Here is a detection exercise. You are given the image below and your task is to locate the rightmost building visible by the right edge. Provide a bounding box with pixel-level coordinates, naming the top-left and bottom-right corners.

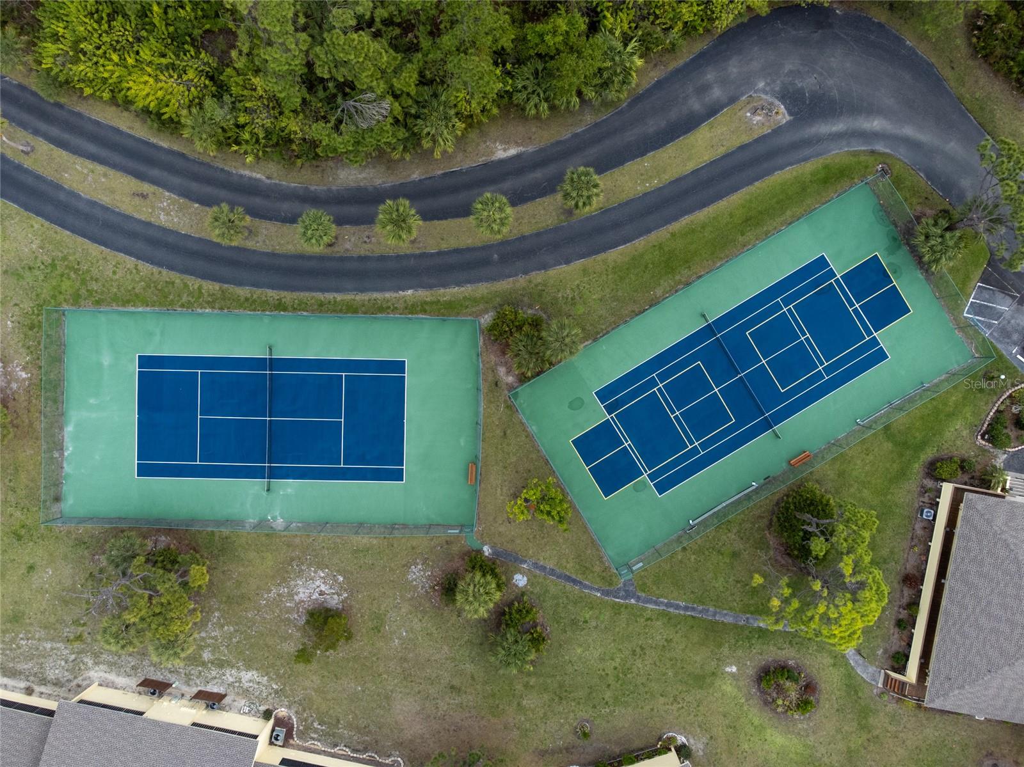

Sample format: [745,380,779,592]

[879,469,1024,724]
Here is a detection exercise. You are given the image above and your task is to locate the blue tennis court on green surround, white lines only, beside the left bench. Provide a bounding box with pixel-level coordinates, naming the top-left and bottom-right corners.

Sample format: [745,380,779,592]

[62,311,483,525]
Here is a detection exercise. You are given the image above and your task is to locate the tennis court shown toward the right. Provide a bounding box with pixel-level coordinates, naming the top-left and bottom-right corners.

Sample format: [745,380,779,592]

[511,182,973,571]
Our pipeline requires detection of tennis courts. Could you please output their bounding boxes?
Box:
[62,311,483,525]
[511,182,973,571]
